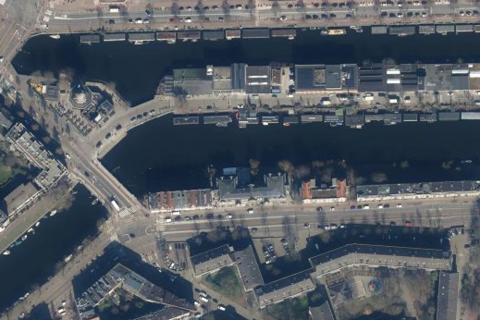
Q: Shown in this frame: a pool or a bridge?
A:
bridge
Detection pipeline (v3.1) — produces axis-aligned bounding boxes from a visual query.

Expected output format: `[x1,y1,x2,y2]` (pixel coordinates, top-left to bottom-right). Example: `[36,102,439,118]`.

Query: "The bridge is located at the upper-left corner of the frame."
[0,29,31,64]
